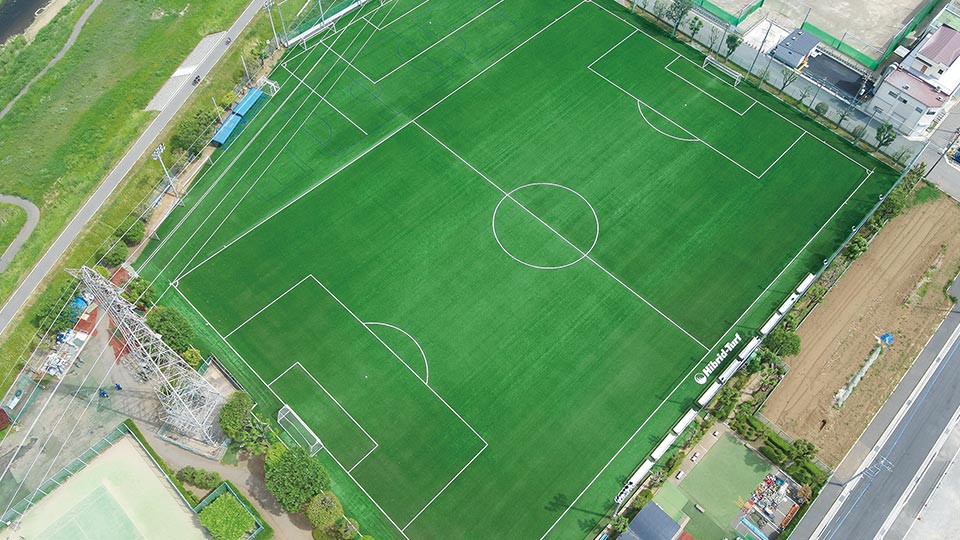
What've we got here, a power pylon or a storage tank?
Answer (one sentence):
The one in the frame is a power pylon.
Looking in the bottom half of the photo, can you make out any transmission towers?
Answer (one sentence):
Yes, looking in the bottom half of the photo, one can make out a transmission tower.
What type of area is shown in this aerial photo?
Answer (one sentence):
The picture captures a sports ground.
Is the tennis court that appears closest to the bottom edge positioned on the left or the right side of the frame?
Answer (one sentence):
It is on the left.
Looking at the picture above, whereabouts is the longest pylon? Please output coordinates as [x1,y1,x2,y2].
[54,255,233,455]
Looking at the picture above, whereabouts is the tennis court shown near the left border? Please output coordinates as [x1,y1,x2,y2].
[0,435,216,540]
